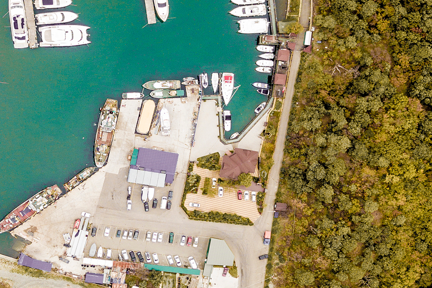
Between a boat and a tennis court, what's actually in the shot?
boat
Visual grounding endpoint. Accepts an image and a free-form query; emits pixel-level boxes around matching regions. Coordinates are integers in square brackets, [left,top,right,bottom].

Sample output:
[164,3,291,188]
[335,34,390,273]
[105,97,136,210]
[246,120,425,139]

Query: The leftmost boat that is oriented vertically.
[9,0,29,51]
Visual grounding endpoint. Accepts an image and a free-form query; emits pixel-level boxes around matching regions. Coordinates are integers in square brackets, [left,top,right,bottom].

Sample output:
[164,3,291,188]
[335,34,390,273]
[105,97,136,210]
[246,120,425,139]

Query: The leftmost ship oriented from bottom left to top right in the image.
[0,185,61,230]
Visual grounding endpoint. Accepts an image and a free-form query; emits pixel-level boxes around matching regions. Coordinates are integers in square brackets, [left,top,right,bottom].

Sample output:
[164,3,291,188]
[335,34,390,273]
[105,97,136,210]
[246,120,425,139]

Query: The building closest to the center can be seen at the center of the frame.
[220,148,259,178]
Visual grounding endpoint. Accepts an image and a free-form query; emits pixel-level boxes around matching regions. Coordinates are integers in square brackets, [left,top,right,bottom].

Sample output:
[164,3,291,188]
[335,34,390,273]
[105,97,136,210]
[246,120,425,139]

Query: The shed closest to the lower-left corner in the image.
[19,253,52,272]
